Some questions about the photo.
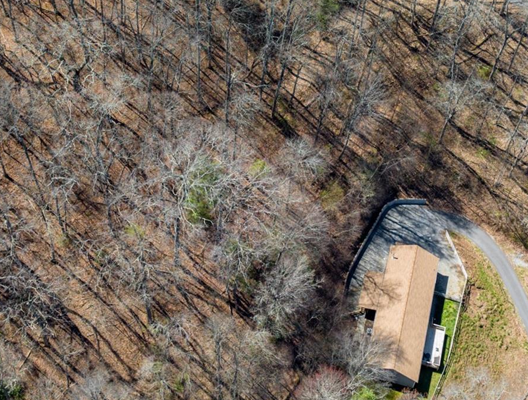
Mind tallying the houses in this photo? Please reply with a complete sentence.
The picture shows just 1 house.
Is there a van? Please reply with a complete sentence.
No, this view has no van in it.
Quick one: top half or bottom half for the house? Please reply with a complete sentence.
It is in the bottom half that the house appears.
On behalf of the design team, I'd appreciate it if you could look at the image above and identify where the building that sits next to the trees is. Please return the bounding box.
[359,245,447,393]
